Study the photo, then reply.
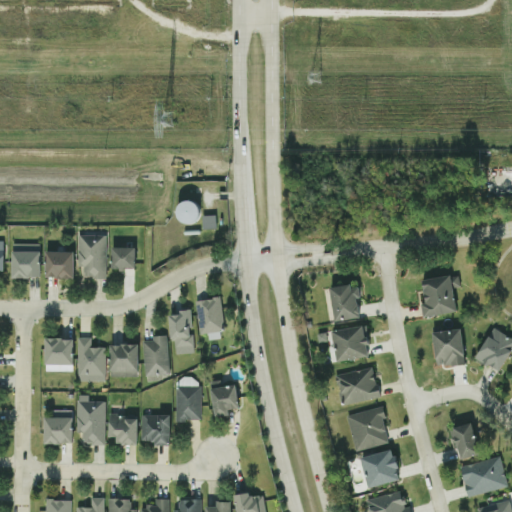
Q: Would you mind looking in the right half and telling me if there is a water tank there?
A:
No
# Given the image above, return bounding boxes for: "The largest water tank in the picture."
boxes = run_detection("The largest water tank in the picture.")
[174,198,203,226]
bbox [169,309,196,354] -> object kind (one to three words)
house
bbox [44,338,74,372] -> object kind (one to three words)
house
